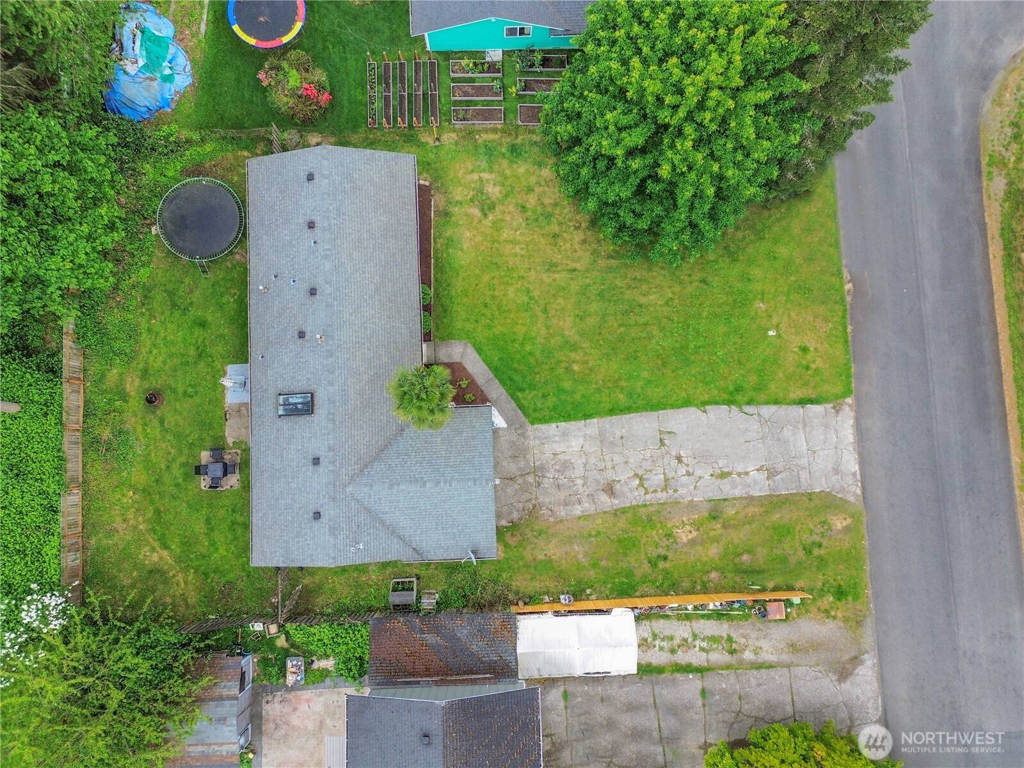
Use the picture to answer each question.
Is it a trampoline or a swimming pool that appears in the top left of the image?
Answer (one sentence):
Looking in the top left of the image, you will find a trampoline.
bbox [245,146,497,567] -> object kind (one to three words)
house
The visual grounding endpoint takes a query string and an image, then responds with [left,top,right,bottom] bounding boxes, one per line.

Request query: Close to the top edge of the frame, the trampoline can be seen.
[227,0,308,55]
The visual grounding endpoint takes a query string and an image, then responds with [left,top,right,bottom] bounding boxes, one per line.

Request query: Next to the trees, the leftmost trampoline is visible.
[157,176,245,264]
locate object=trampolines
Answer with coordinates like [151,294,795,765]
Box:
[157,176,245,264]
[227,0,308,55]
